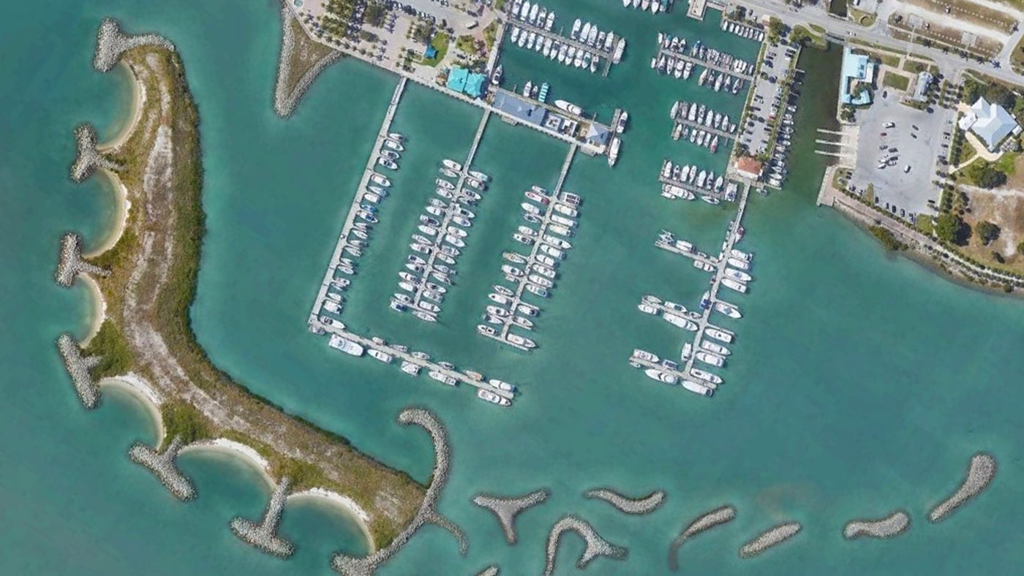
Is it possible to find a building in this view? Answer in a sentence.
Yes, a building is visible in the scene.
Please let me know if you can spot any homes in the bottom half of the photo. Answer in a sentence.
No, no home is visible in the bottom half of the photo.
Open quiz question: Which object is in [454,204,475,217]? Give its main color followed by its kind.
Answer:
white boat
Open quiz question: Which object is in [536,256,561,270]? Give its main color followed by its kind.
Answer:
white boat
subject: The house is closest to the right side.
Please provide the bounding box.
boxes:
[962,96,1023,152]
